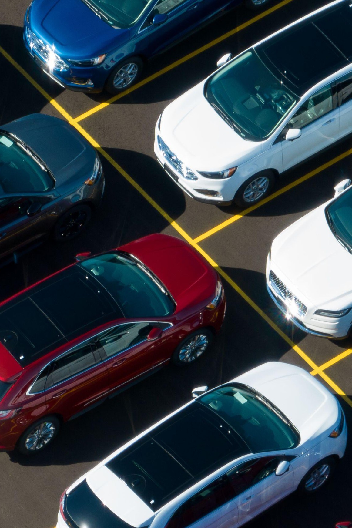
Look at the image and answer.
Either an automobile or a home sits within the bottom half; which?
automobile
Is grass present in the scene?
No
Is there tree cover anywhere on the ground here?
No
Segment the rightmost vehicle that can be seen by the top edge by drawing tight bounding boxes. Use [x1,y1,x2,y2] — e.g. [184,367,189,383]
[156,0,352,208]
